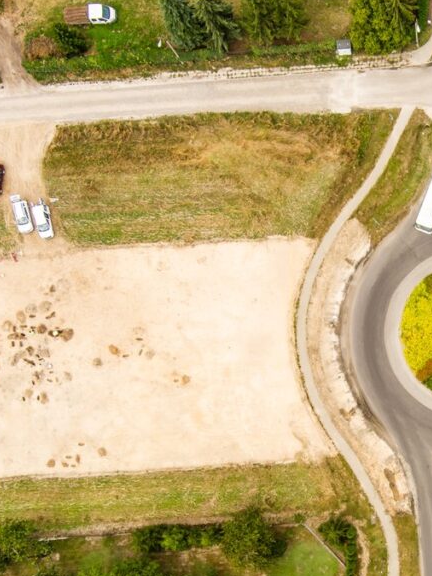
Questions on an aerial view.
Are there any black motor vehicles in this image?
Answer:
No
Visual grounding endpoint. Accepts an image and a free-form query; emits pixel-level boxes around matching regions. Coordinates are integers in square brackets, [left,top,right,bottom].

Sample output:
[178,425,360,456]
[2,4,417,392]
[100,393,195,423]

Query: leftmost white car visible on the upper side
[8,190,34,235]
